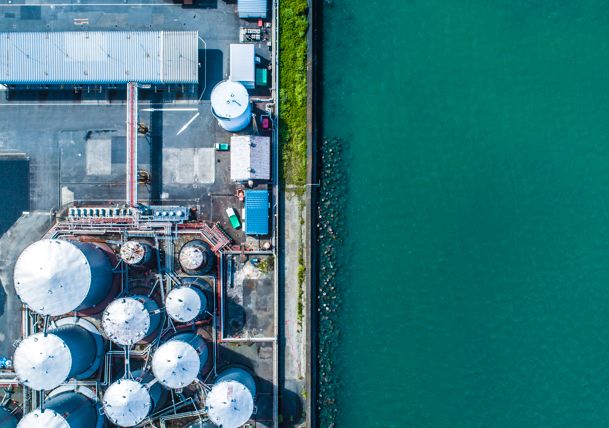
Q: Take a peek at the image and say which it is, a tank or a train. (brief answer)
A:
tank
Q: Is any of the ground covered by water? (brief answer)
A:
Yes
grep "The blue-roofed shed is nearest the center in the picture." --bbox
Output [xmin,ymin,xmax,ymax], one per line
[243,190,270,235]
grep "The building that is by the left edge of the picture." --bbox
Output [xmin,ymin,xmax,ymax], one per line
[0,30,209,95]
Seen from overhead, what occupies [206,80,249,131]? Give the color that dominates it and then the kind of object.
white storage tank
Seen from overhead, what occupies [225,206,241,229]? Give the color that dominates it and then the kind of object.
green vehicle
